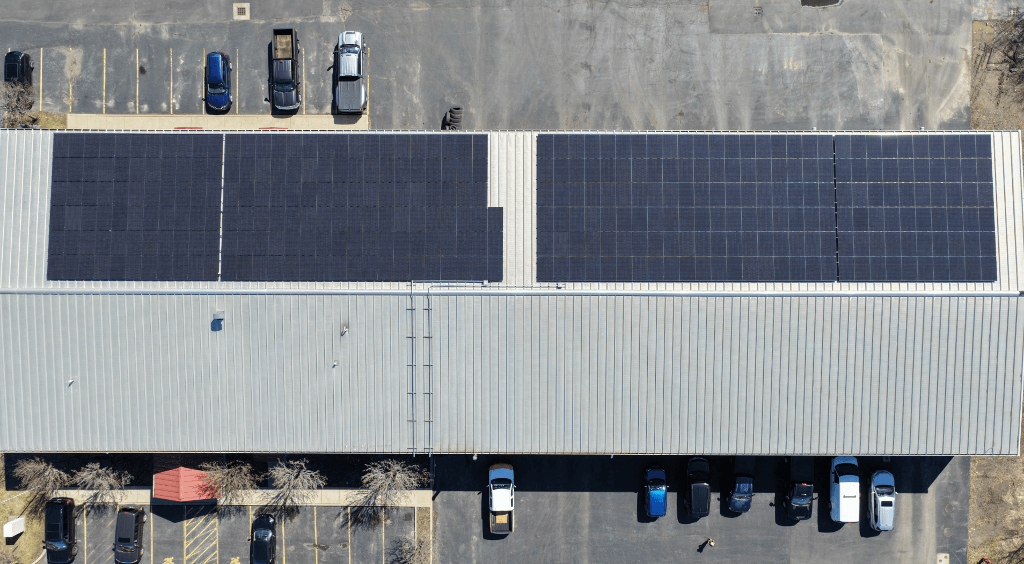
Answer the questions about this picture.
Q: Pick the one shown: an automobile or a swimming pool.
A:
automobile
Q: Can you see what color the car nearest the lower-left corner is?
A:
black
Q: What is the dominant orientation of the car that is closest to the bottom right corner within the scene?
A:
from top to bottom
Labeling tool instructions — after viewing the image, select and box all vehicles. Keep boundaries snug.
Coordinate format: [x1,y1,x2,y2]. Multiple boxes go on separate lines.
[332,30,367,114]
[111,501,146,564]
[683,456,713,519]
[867,470,898,532]
[267,29,302,109]
[203,51,232,110]
[642,465,669,519]
[247,513,276,564]
[0,48,33,108]
[785,455,820,522]
[42,496,77,562]
[828,455,861,524]
[486,462,516,534]
[727,455,757,514]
